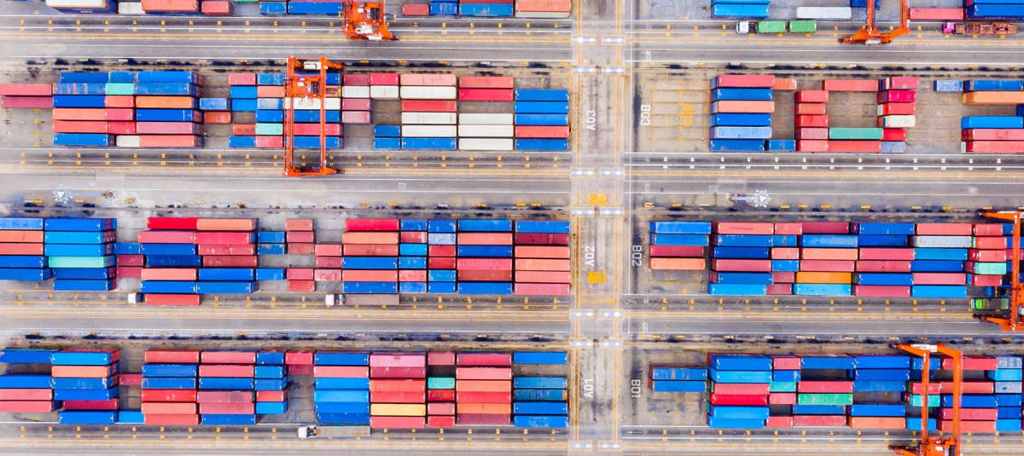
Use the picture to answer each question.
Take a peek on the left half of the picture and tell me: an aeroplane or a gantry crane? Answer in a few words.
gantry crane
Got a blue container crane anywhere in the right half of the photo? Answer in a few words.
No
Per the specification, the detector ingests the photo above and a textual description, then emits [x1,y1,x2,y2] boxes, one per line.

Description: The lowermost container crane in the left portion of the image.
[282,54,353,175]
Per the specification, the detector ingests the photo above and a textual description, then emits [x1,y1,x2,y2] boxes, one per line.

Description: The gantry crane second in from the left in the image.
[337,0,407,43]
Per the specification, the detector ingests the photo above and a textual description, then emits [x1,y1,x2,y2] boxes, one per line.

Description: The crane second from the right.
[878,343,965,456]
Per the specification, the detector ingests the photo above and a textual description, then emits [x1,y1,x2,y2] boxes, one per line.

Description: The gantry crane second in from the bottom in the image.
[965,211,1024,330]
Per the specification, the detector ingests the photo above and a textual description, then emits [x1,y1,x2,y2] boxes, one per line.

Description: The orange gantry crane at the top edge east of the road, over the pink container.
[831,0,914,47]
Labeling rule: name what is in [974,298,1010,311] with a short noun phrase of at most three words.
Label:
vehicle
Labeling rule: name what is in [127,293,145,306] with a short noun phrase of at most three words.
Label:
vehicle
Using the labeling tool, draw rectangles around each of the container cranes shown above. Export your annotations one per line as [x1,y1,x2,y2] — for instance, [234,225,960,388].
[965,211,1024,330]
[337,0,407,43]
[282,54,353,175]
[831,0,914,47]
[878,343,965,456]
